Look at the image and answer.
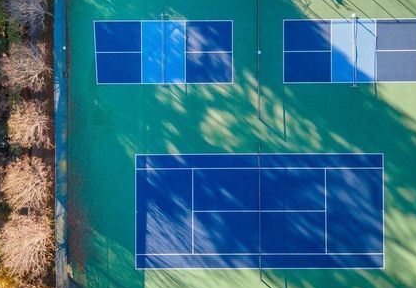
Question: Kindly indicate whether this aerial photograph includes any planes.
No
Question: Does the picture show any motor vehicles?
No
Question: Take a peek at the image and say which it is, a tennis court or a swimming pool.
tennis court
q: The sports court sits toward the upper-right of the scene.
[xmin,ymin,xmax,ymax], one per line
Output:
[283,19,416,82]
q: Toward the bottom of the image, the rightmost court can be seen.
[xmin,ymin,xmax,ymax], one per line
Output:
[135,153,385,271]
